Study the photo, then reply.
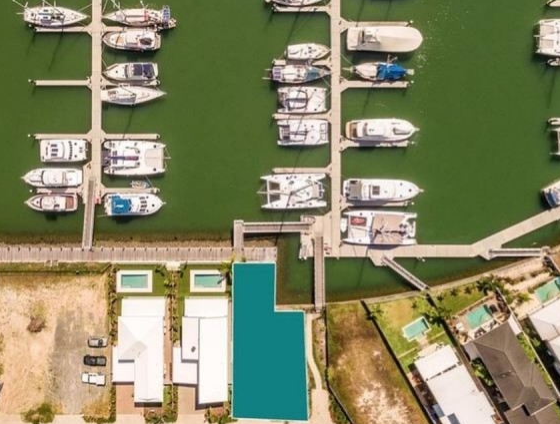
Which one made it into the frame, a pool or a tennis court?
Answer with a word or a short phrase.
pool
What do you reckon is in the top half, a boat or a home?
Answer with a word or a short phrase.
boat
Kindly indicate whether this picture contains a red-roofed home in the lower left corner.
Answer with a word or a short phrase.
No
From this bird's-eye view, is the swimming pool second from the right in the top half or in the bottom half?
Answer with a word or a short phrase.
bottom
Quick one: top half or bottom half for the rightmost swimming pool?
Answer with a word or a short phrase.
bottom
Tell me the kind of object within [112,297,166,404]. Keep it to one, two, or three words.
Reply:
house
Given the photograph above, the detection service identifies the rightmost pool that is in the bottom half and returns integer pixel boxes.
[534,277,560,302]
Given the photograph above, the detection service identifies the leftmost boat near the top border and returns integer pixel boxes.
[9,0,91,27]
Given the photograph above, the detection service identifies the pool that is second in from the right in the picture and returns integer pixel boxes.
[463,302,495,331]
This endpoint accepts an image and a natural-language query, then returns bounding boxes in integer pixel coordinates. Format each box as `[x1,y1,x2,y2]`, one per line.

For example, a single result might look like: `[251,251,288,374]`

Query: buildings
[526,294,560,369]
[173,296,229,405]
[112,297,166,404]
[463,315,560,424]
[414,343,501,424]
